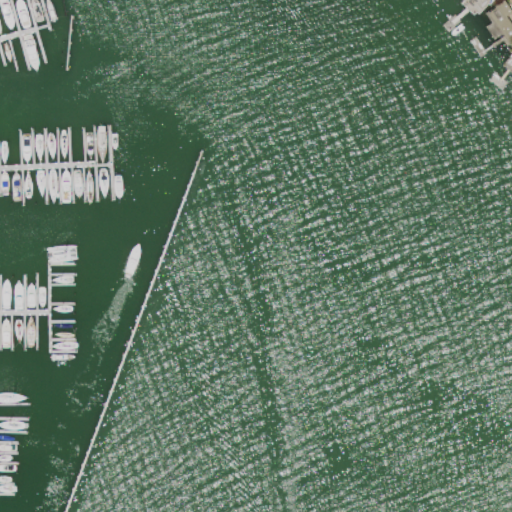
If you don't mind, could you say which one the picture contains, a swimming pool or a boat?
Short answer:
boat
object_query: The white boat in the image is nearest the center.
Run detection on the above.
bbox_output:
[124,244,141,280]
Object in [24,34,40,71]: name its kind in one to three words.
boat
